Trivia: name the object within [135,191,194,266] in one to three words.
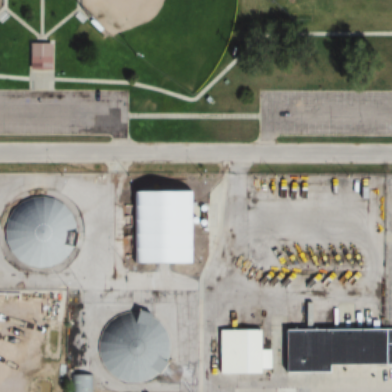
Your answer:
shed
